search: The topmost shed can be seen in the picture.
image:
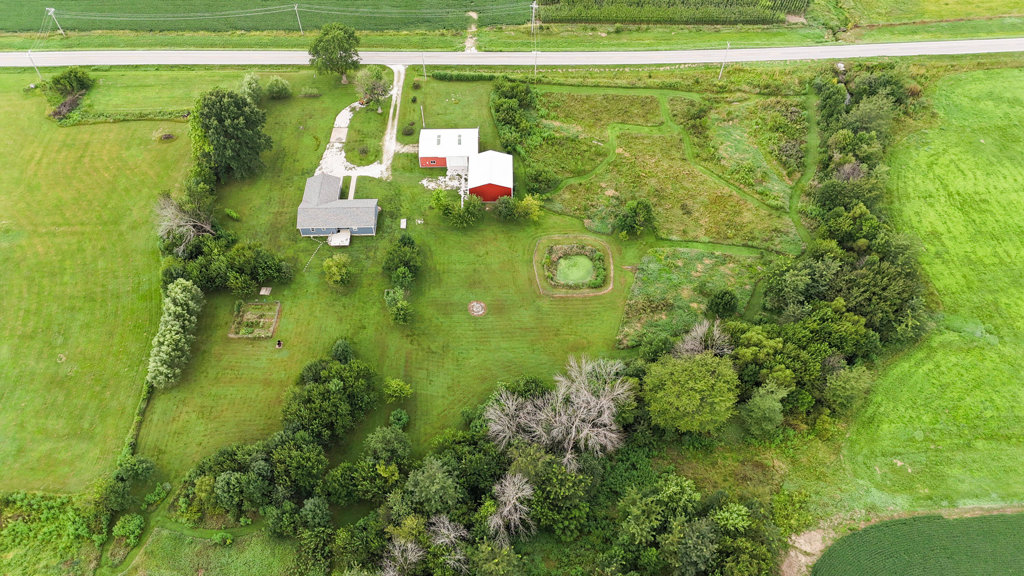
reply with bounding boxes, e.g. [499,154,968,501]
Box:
[418,127,478,167]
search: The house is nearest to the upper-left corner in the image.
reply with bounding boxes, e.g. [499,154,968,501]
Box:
[296,171,379,236]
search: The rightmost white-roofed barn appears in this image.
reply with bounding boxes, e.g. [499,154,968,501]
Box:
[467,149,513,202]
